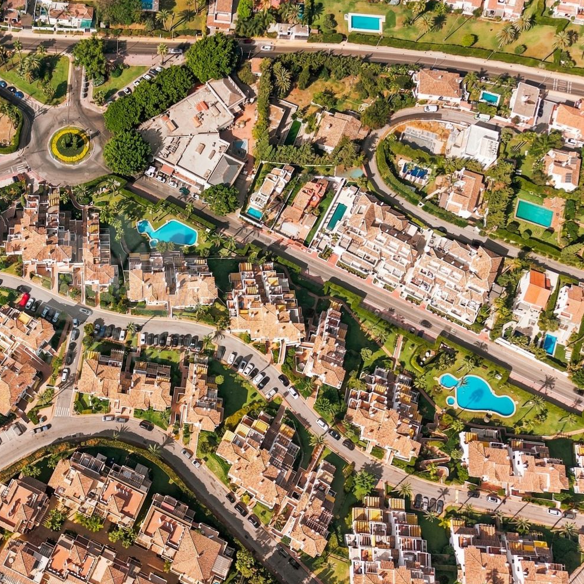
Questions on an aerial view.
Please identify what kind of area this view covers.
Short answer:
residential area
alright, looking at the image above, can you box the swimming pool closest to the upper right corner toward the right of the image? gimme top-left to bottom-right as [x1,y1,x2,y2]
[480,89,501,106]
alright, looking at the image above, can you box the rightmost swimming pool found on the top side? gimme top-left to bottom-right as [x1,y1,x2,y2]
[513,197,556,229]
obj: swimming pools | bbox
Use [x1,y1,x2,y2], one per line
[139,0,158,11]
[326,201,349,231]
[134,218,199,248]
[445,394,457,407]
[245,203,266,221]
[439,371,459,389]
[541,332,560,356]
[513,197,556,229]
[480,89,501,106]
[455,372,518,418]
[405,159,433,182]
[230,138,249,156]
[349,12,382,32]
